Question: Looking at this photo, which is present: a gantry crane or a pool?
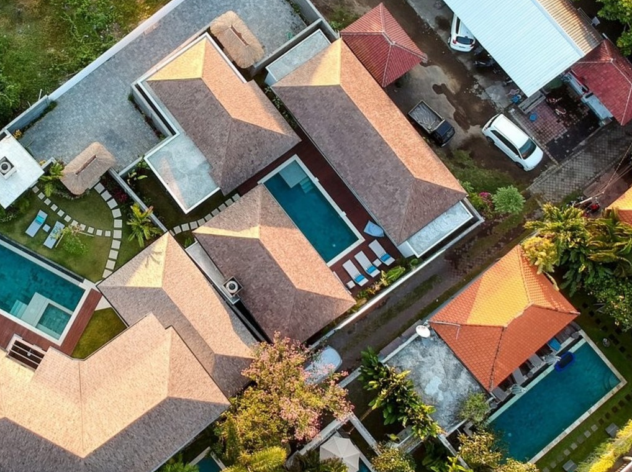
pool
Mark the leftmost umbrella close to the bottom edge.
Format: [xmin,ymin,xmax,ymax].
[317,432,361,472]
